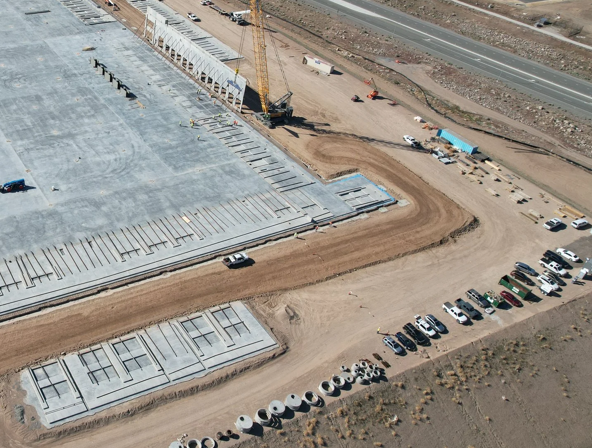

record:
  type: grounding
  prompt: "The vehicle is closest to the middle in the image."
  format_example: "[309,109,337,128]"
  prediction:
[222,253,252,268]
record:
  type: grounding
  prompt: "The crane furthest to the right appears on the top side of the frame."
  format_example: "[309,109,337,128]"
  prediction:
[250,0,295,128]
